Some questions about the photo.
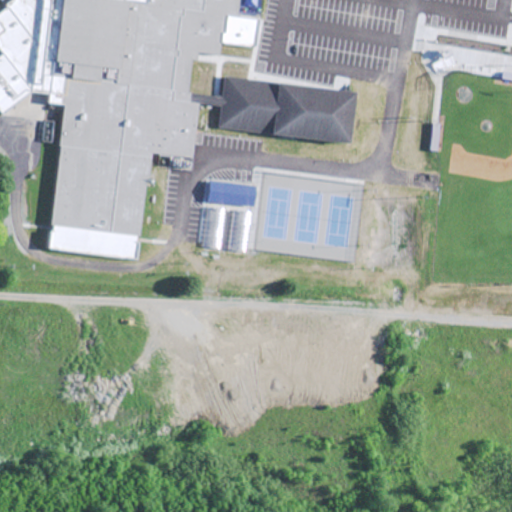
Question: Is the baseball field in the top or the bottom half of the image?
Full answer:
The baseball field sits in the top half of the picture.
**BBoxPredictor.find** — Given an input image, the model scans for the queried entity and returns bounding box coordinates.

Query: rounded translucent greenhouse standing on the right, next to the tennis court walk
[228,210,252,252]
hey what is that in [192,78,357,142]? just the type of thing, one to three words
building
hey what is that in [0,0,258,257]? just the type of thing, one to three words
building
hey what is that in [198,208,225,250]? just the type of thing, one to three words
greenhouse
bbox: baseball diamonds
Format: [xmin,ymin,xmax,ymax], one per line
[431,71,512,286]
